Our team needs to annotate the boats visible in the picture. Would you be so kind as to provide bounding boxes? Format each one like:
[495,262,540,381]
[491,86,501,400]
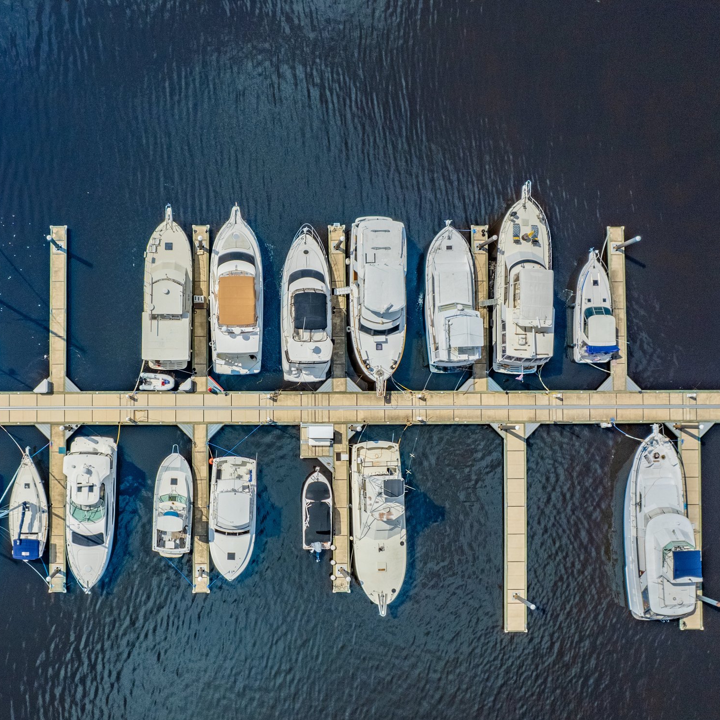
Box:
[135,373,175,391]
[279,223,334,383]
[208,202,264,374]
[63,437,118,594]
[343,216,408,397]
[348,435,419,617]
[569,248,630,364]
[424,220,484,373]
[302,467,333,563]
[208,450,258,581]
[143,203,194,370]
[152,444,194,557]
[0,446,52,562]
[492,178,554,381]
[624,423,702,623]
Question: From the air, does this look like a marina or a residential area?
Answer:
marina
